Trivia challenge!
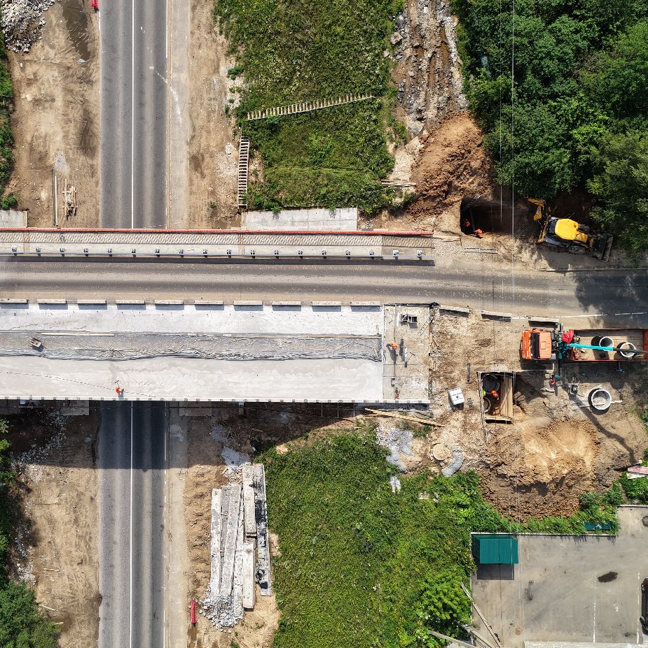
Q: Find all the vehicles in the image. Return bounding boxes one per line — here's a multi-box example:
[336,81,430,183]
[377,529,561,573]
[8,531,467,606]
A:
[639,577,648,635]
[520,319,648,381]
[514,195,597,260]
